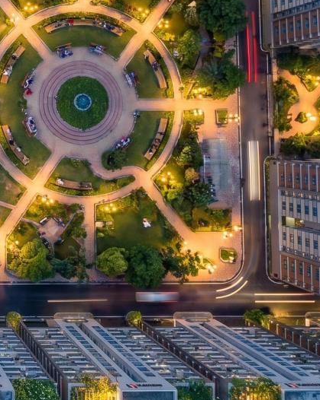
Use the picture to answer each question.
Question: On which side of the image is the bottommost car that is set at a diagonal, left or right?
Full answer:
The bottommost car that is set at a diagonal sits on the right side.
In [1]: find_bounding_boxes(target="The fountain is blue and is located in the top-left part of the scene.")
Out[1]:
[73,93,92,111]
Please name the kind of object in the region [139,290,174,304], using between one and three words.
vehicle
